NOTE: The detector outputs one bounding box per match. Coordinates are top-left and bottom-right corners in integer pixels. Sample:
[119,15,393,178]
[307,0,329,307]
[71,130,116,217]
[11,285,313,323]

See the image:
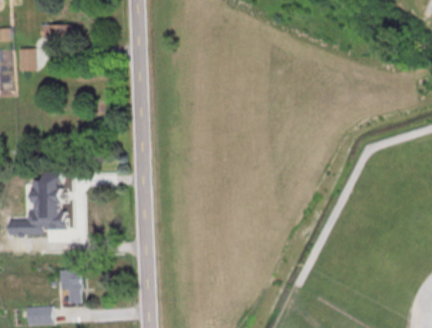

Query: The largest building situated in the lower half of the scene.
[8,169,65,237]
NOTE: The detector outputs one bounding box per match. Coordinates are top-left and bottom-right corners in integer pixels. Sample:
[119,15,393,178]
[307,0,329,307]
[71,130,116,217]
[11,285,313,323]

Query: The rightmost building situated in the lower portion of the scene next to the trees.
[60,272,82,306]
